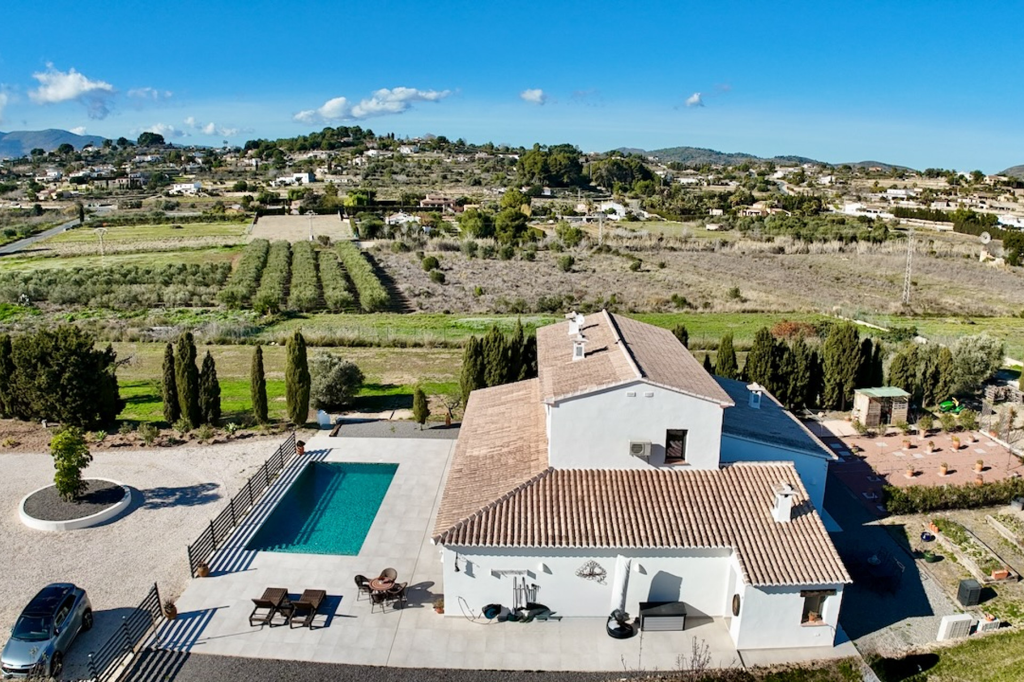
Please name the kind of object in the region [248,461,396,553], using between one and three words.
swimming pool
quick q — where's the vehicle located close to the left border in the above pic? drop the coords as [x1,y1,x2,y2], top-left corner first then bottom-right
[0,581,94,678]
